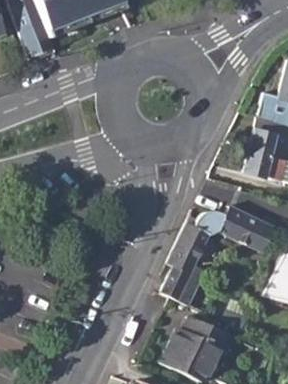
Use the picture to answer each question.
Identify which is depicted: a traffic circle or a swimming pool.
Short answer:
traffic circle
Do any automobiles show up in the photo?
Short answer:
Yes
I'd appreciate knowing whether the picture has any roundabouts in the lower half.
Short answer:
No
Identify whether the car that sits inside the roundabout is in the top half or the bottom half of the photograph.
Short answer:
top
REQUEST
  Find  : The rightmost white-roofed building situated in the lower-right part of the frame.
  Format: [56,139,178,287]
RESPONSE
[260,254,288,306]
